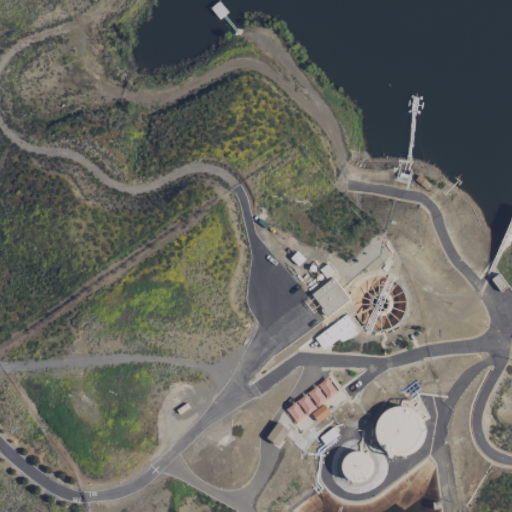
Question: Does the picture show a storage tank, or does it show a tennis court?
storage tank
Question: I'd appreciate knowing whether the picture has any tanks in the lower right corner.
Yes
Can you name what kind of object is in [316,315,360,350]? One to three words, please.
building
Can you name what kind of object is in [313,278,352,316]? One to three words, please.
building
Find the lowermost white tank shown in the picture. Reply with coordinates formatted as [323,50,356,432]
[342,451,375,484]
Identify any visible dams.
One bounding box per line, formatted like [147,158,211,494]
[488,224,512,288]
